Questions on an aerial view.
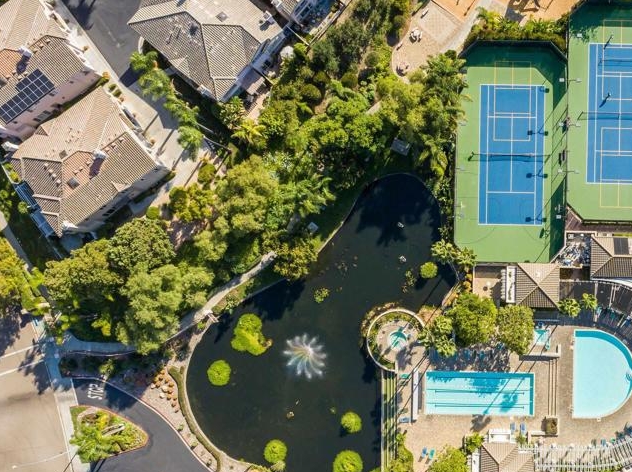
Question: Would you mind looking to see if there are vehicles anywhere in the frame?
No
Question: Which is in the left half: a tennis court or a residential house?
residential house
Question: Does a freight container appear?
No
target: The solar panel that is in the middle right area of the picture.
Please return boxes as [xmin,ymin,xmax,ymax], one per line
[614,238,629,255]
